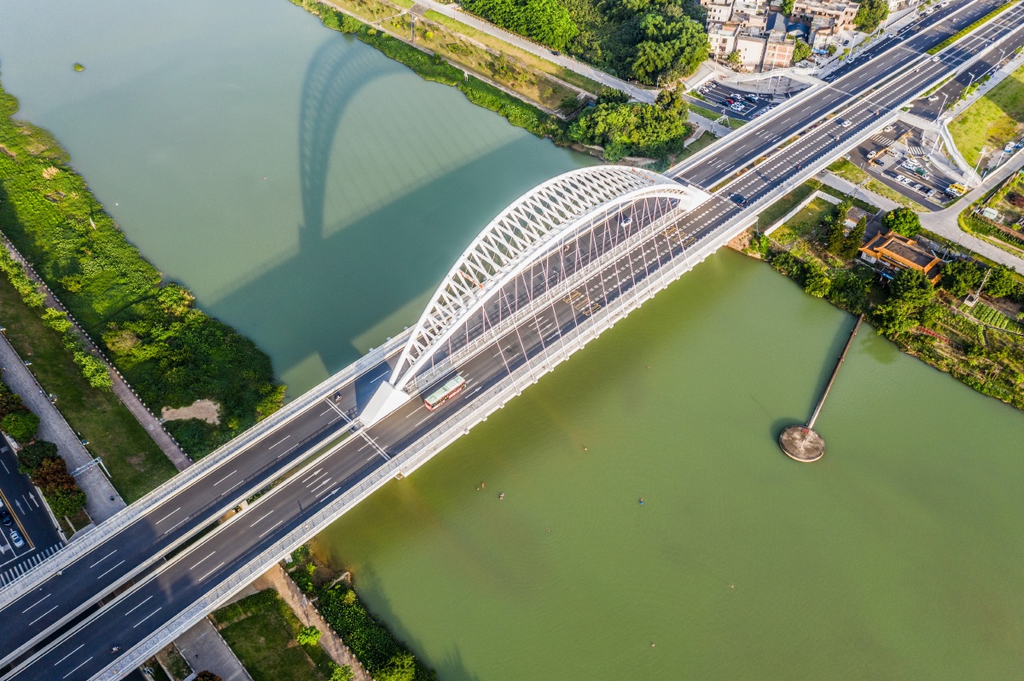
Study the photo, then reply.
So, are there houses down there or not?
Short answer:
Yes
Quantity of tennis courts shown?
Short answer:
0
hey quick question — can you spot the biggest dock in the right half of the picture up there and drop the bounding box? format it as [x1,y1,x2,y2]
[779,312,866,464]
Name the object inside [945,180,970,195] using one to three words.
vehicle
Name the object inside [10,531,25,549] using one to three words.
car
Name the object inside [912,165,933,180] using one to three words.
vehicle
